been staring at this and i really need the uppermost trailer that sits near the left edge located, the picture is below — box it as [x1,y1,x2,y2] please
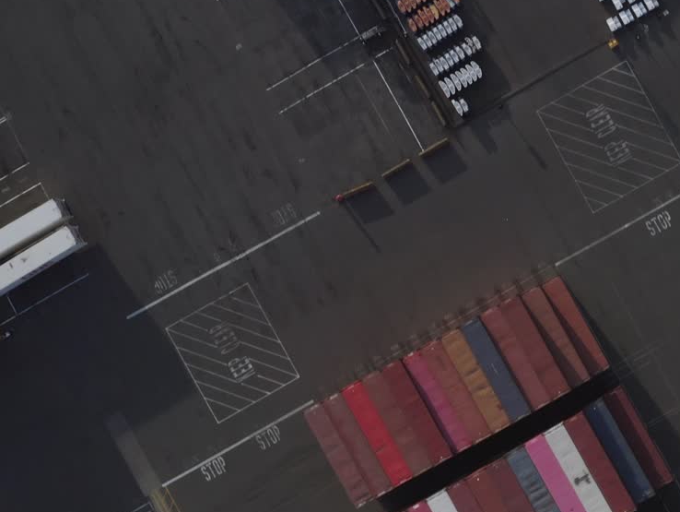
[0,199,77,259]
